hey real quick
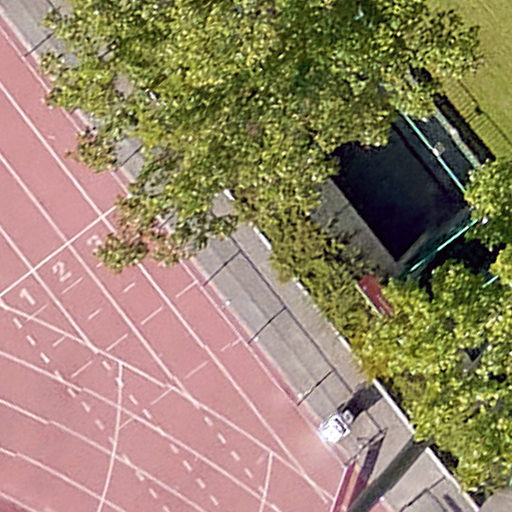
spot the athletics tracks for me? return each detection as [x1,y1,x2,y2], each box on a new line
[0,14,390,512]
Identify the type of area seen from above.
sports ground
